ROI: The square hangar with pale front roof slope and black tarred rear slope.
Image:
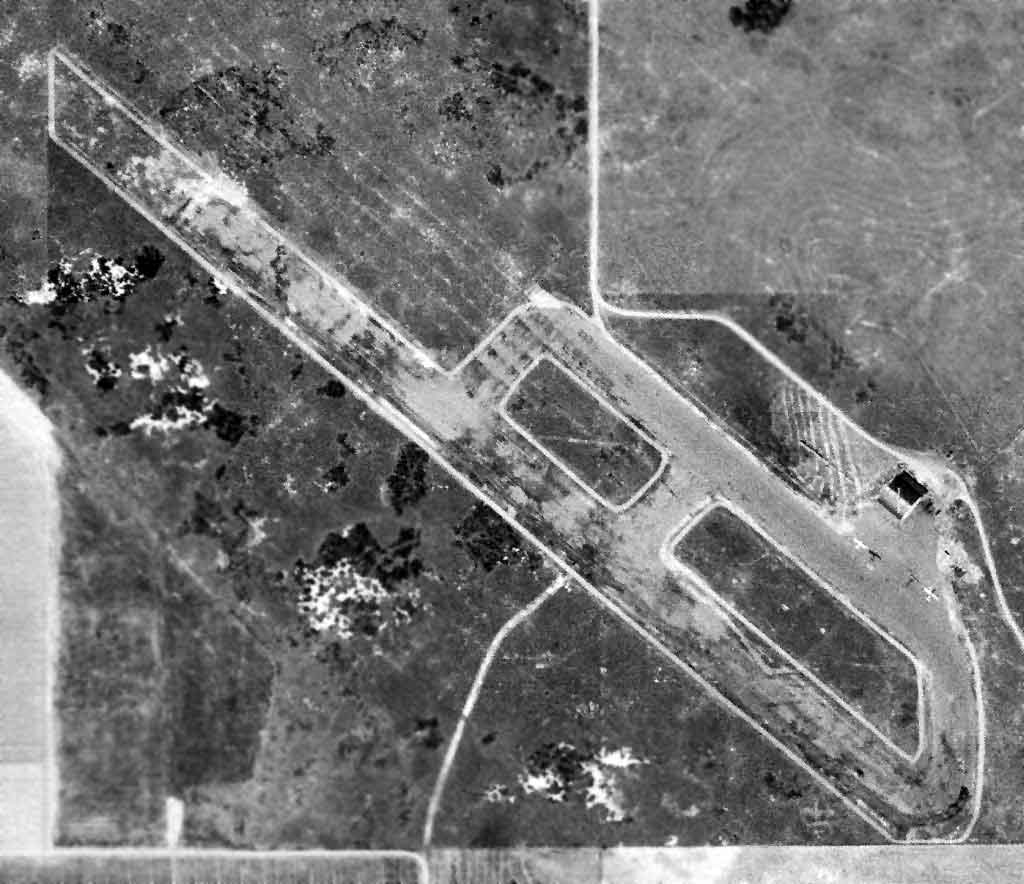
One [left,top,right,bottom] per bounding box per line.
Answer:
[878,471,925,522]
